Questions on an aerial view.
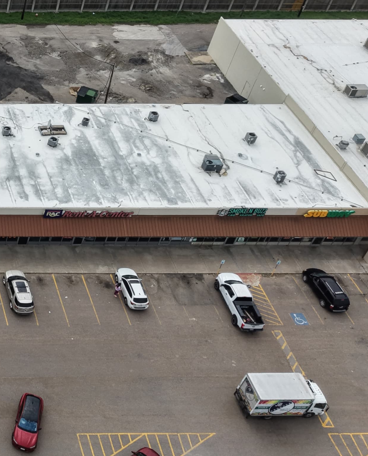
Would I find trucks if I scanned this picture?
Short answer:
Yes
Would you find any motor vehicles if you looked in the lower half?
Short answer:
Yes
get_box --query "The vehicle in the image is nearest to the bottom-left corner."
[11,394,45,454]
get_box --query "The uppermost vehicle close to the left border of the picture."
[3,272,38,317]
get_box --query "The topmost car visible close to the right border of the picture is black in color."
[299,271,354,316]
